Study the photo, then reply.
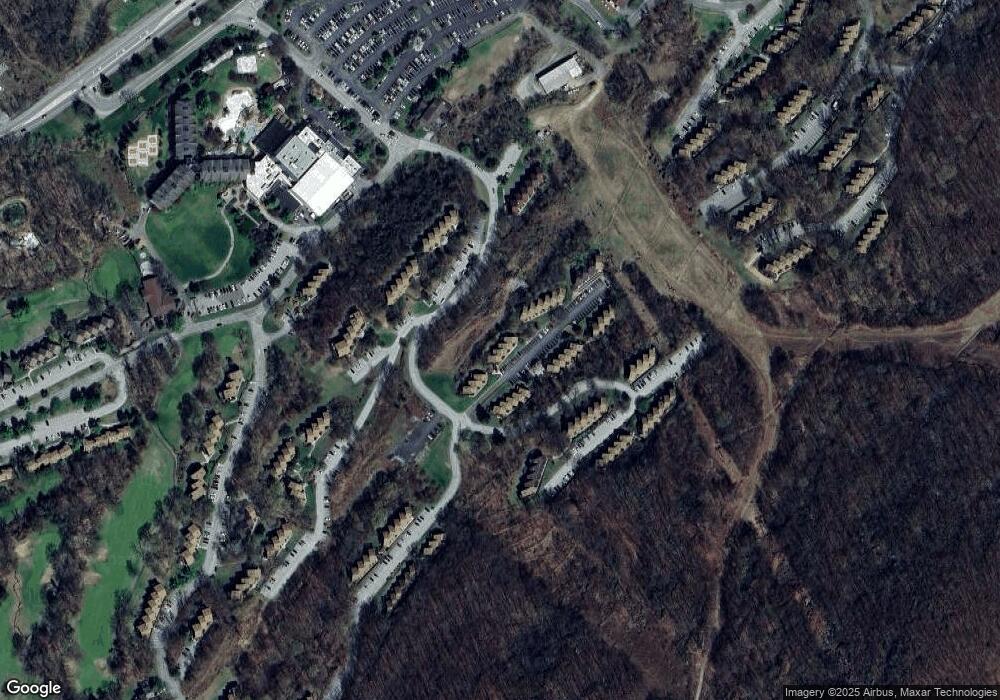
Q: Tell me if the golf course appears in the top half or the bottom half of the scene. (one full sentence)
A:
It is in the bottom half that the golf course appears.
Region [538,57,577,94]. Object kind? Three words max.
shed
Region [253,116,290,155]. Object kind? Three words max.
building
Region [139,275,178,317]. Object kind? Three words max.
building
